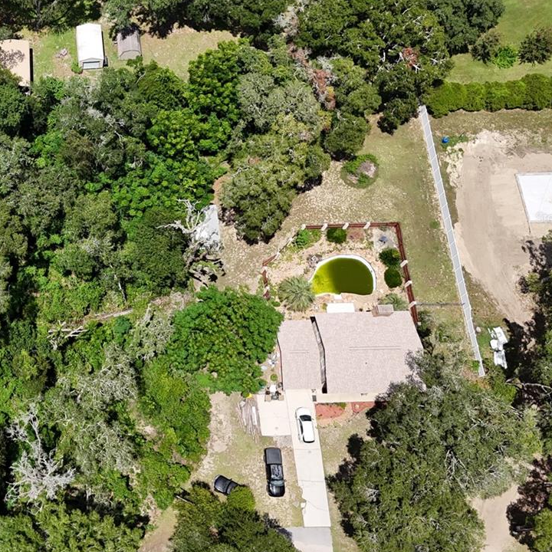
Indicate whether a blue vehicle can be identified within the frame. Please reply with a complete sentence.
No, the picture doesn't show any blue vehicle.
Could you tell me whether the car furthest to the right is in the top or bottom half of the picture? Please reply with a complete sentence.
The bottom half of the photo is where the car furthest to the right is.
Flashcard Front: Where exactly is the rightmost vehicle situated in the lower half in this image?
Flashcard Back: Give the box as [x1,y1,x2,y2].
[295,406,316,445]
